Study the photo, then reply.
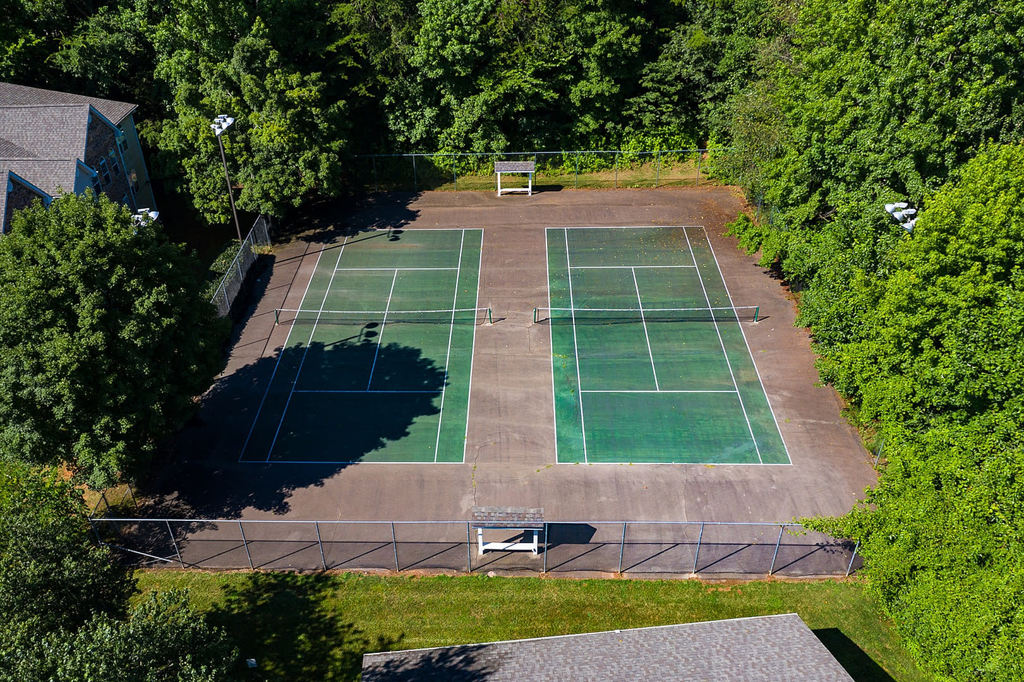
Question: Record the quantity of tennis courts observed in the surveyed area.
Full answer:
The photo contains 2 tennis courts.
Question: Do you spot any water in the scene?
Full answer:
No, water can't be seen anywhere here.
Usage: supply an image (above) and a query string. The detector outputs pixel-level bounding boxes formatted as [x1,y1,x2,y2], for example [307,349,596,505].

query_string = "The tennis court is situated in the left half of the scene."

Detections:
[240,229,483,463]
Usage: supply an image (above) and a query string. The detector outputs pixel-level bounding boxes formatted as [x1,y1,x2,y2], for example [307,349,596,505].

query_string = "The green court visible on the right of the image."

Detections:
[545,226,791,464]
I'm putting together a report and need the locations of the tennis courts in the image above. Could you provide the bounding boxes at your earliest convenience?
[240,229,483,463]
[545,226,791,464]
